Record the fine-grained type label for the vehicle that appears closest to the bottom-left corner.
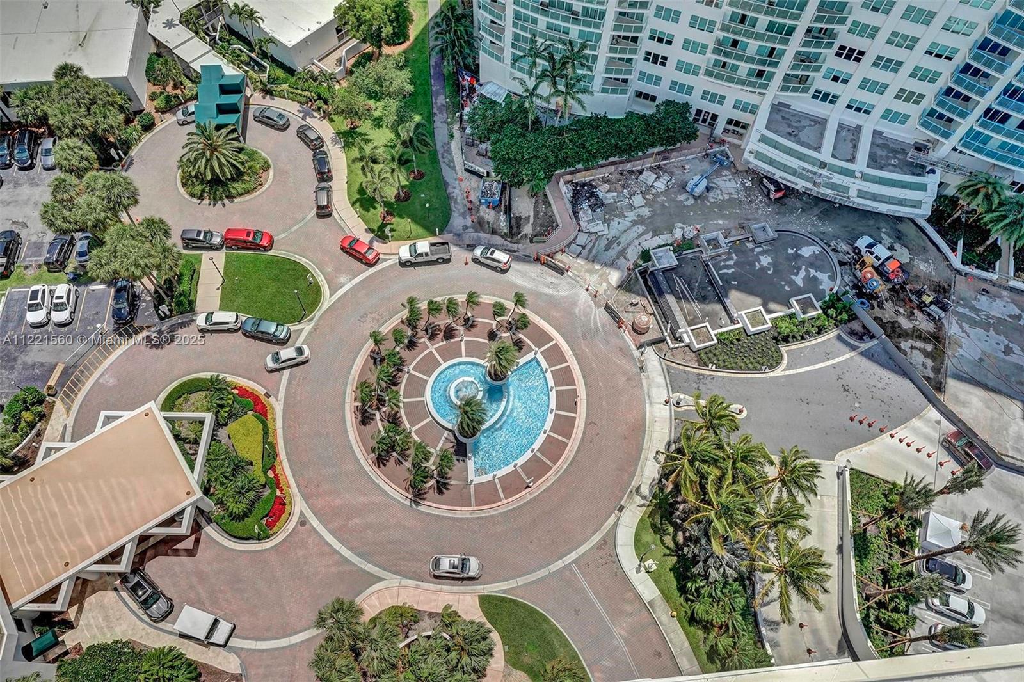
car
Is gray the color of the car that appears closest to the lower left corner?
Yes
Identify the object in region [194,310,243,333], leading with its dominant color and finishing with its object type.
white car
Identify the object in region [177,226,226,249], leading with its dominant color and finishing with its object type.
gray car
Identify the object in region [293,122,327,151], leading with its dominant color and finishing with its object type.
gray car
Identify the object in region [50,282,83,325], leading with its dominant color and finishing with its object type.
white car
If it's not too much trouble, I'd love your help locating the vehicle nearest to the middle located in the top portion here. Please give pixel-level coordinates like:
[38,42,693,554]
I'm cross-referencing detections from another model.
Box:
[470,246,515,273]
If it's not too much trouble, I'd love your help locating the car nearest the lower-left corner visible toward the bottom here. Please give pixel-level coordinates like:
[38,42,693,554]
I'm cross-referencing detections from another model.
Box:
[118,570,172,621]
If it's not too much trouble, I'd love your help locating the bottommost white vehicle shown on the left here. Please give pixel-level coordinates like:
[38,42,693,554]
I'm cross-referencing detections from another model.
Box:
[168,604,235,649]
